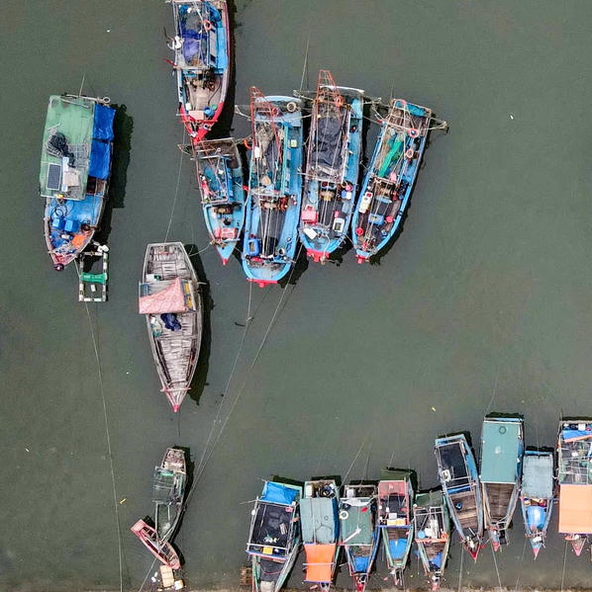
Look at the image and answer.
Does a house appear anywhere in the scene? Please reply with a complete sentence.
No, I find no house anywhere in the image.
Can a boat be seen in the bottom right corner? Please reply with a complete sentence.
Yes, a boat appears in the bottom right corner.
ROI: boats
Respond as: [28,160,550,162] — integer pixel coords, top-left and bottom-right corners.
[557,419,592,556]
[235,478,302,592]
[377,472,415,589]
[338,484,379,592]
[414,491,451,591]
[153,447,188,550]
[480,416,524,554]
[353,82,446,266]
[130,519,181,572]
[163,0,229,146]
[235,87,310,288]
[300,477,342,592]
[41,82,118,270]
[520,450,557,561]
[139,241,207,411]
[294,70,380,263]
[434,433,482,562]
[190,138,247,264]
